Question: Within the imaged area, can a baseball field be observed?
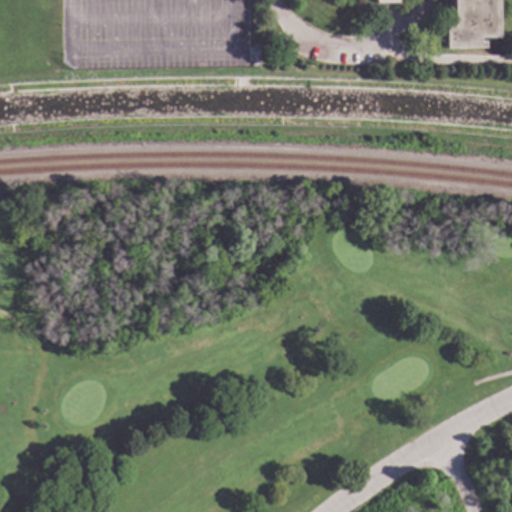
No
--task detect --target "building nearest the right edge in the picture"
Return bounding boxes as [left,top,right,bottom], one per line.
[450,0,505,48]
